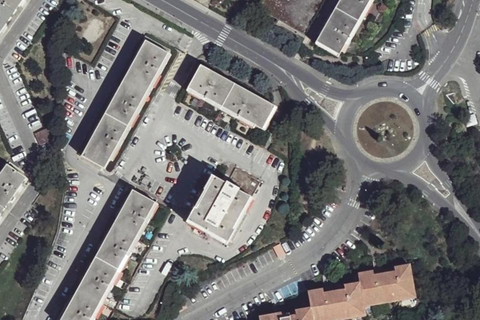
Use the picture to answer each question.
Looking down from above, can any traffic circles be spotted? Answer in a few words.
Yes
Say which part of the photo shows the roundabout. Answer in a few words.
right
